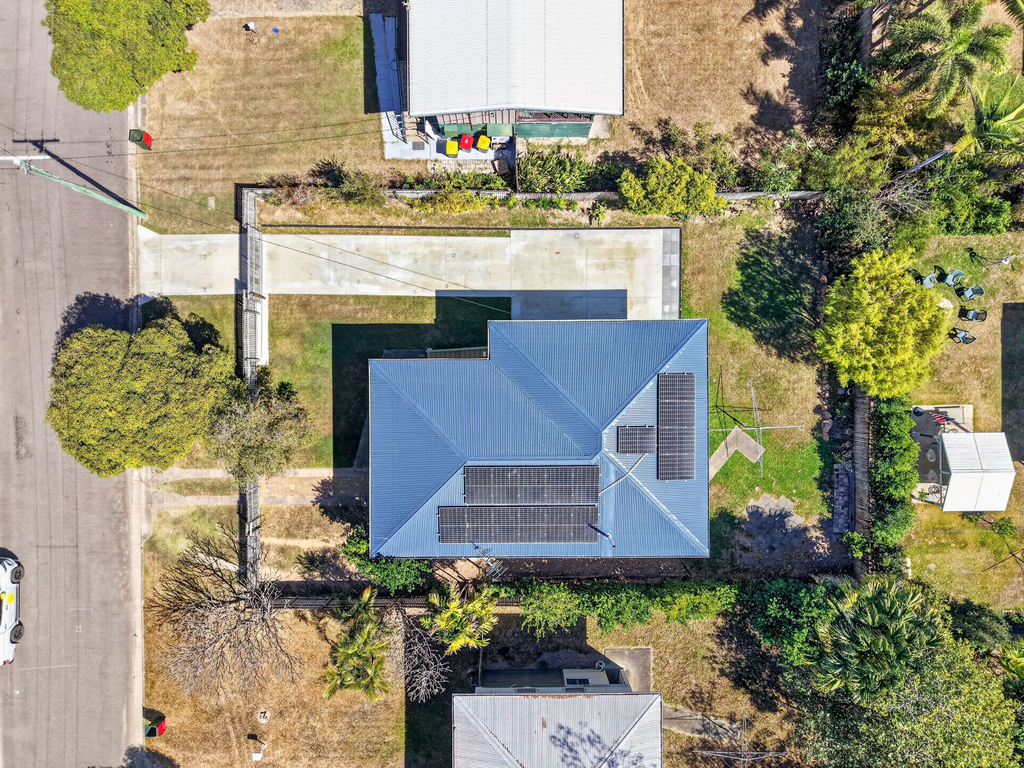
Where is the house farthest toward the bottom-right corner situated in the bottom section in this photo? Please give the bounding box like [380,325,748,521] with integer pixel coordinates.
[450,668,665,768]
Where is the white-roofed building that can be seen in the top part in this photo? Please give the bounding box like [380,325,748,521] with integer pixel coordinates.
[405,0,627,138]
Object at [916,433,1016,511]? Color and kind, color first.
white gazebo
